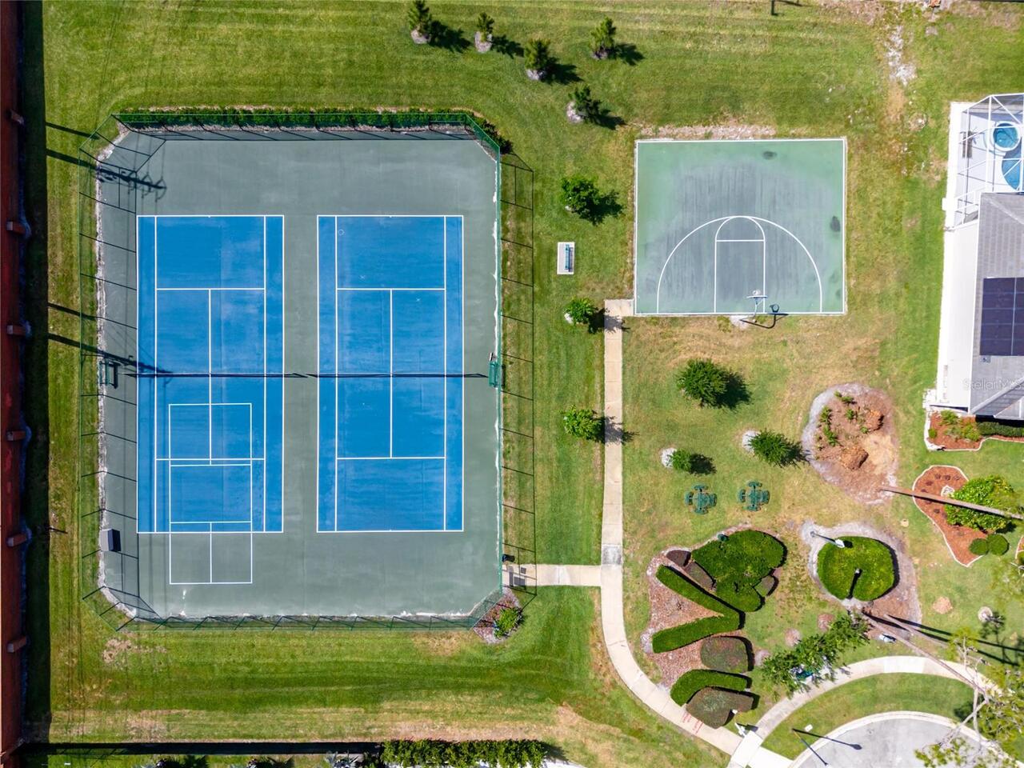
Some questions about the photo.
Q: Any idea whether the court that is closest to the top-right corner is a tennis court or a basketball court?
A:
basketball court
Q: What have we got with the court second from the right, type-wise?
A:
tennis court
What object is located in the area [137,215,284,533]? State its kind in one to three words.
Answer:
tennis court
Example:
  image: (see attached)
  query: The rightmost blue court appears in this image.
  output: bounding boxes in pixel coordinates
[317,215,463,532]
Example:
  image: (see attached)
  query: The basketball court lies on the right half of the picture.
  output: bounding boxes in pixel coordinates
[633,136,848,317]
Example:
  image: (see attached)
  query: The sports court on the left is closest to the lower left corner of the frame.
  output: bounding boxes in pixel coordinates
[168,404,252,584]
